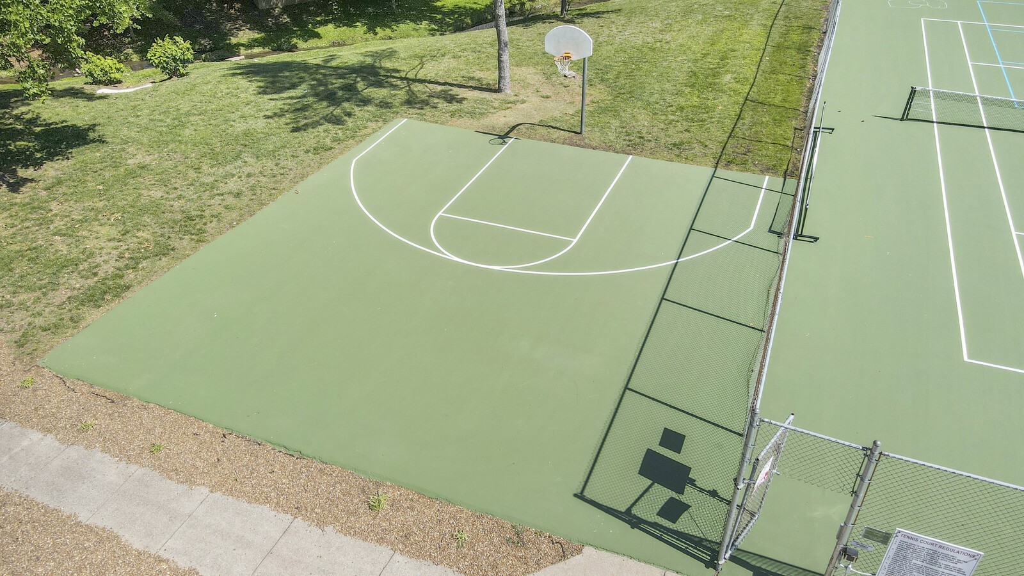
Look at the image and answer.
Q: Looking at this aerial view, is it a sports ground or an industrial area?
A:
sports ground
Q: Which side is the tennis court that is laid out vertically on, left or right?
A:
right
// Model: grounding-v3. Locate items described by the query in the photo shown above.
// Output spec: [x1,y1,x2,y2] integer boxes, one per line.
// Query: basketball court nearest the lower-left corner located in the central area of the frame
[32,121,795,576]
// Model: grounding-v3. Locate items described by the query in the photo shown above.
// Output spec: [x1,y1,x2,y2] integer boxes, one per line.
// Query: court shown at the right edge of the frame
[714,0,1024,576]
